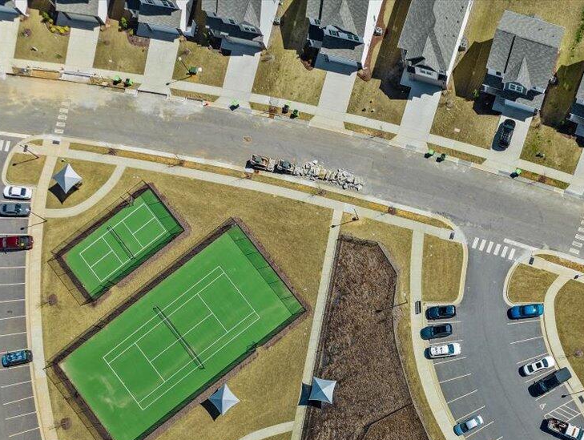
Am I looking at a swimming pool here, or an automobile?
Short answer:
automobile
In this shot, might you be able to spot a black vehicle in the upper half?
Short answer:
Yes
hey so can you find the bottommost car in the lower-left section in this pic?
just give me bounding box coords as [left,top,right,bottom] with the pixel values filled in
[0,349,33,365]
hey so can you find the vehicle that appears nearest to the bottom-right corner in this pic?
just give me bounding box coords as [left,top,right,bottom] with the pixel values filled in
[546,417,584,440]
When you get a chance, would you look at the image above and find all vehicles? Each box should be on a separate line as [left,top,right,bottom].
[509,304,544,319]
[426,305,456,320]
[420,324,453,340]
[524,356,556,376]
[546,417,584,440]
[0,235,34,251]
[431,342,462,358]
[0,201,31,216]
[453,415,485,436]
[499,117,516,148]
[531,366,576,396]
[0,349,33,365]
